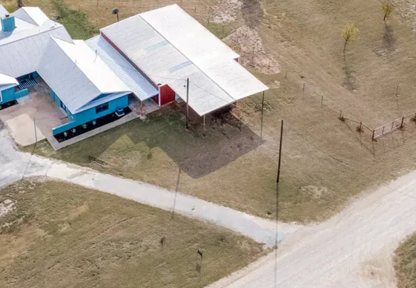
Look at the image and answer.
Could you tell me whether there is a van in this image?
No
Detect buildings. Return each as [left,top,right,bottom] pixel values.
[100,4,269,134]
[0,4,133,135]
